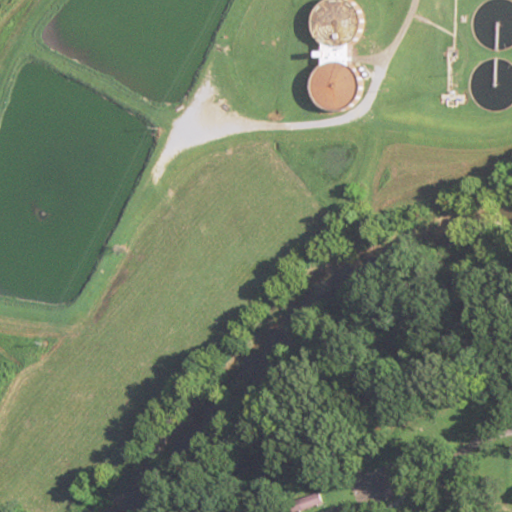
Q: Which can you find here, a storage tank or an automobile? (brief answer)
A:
storage tank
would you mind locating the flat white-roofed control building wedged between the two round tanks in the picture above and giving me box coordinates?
[311,42,352,66]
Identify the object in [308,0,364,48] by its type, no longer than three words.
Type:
storage tank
